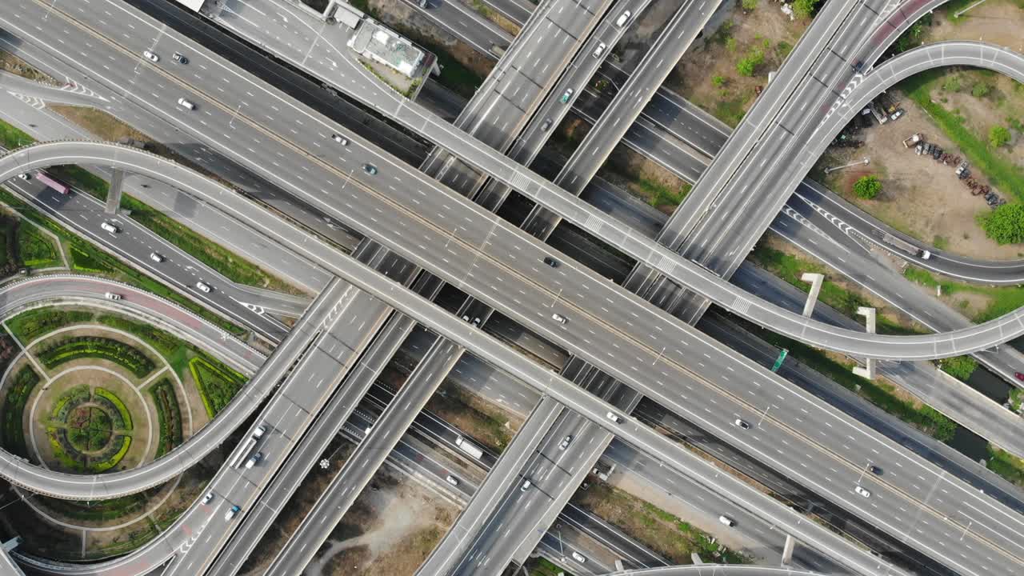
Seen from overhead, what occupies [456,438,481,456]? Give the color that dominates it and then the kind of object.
white vehicle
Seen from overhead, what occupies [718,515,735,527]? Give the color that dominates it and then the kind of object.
white vehicle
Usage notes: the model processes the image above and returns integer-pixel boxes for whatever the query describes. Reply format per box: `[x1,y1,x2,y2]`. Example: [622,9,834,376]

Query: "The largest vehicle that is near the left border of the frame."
[28,170,72,196]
